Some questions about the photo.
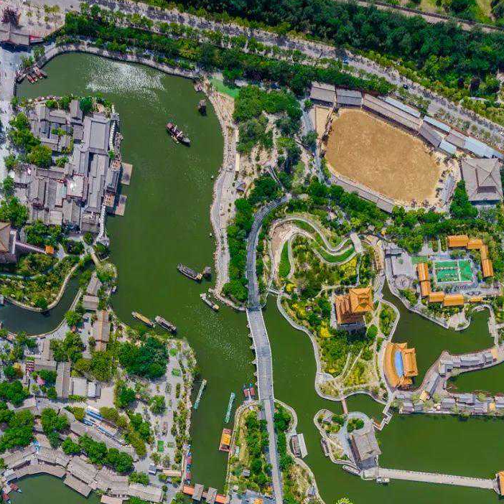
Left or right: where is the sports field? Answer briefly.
right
